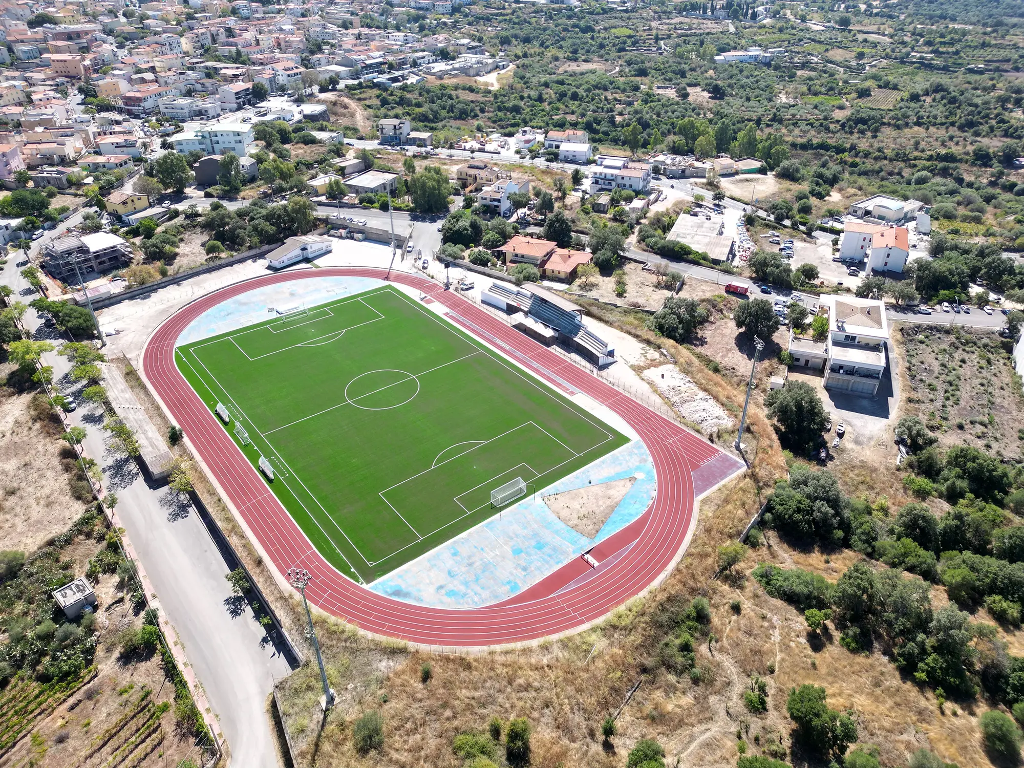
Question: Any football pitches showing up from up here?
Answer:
Yes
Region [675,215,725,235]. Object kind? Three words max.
building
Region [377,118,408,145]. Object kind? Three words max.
house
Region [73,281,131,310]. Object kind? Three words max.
shed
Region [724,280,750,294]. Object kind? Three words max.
vehicle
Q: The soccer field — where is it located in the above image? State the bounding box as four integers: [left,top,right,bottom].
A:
[176,283,634,585]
